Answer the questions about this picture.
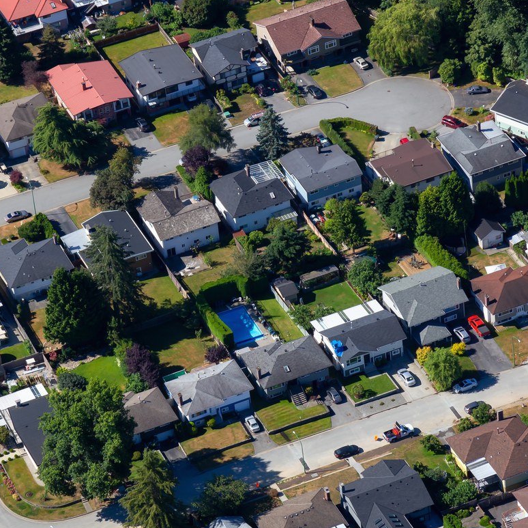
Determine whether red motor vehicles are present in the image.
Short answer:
Yes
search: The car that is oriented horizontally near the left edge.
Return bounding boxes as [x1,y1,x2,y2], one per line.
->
[3,210,30,224]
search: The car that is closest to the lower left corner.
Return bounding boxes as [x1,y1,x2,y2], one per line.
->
[243,414,262,433]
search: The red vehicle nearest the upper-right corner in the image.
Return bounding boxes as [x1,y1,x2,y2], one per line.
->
[441,115,467,128]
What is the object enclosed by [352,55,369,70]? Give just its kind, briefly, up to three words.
car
